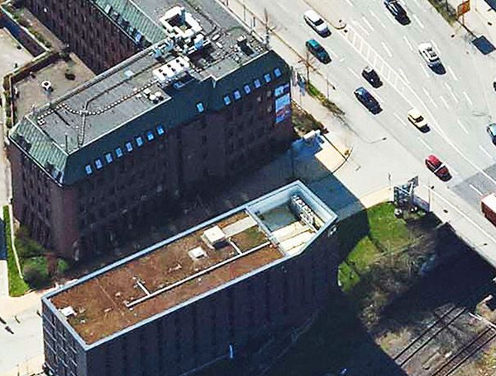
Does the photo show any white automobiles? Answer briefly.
Yes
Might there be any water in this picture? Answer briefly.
No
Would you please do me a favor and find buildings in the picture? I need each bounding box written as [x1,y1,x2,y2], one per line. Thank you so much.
[42,179,343,376]
[8,0,294,261]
